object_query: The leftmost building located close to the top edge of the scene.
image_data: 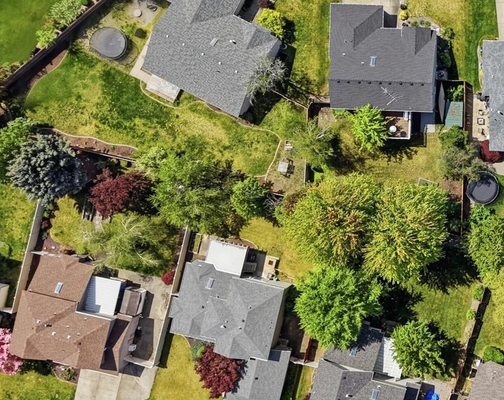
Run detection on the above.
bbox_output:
[138,0,280,115]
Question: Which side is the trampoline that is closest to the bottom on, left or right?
right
